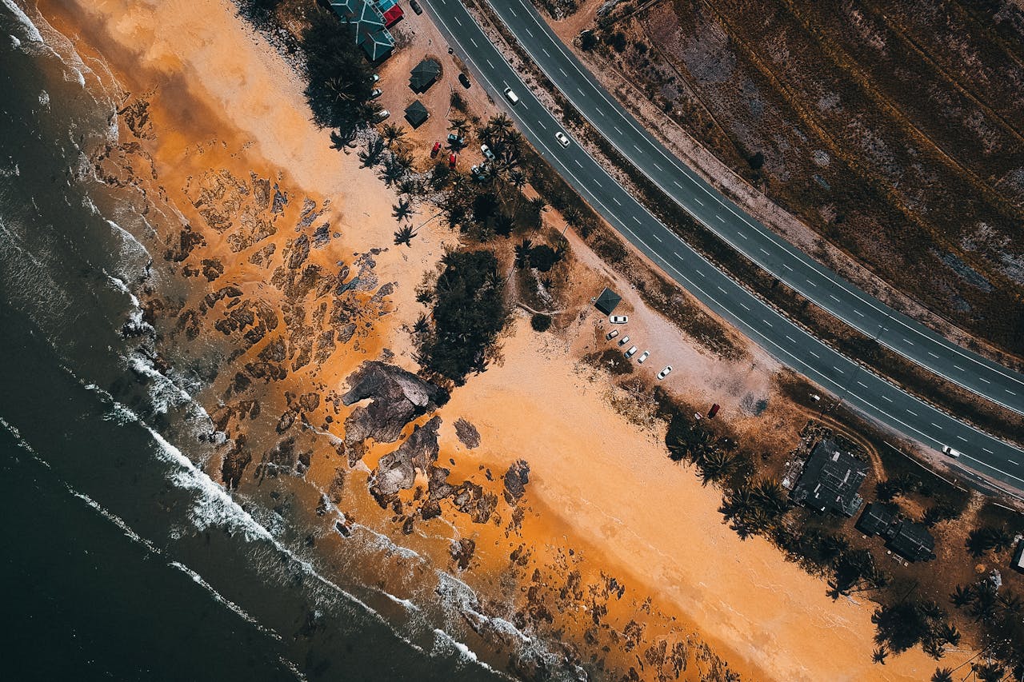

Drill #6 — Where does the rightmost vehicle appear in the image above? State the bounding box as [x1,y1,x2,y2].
[939,445,961,459]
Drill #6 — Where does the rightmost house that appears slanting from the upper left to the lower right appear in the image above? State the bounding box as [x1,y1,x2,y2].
[853,501,935,563]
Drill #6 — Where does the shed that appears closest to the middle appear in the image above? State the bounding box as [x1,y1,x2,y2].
[595,287,621,314]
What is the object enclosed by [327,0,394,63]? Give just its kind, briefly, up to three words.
building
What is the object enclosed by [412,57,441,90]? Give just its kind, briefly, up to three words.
shed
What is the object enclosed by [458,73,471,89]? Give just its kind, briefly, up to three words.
vehicle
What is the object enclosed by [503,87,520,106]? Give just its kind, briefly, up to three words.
vehicle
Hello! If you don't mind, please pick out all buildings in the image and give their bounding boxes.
[404,99,428,126]
[1007,537,1024,569]
[785,438,868,522]
[327,0,394,63]
[412,57,441,90]
[853,501,935,563]
[595,287,621,314]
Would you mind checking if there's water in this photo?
Yes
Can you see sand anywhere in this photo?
Yes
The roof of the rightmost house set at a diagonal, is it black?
Yes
